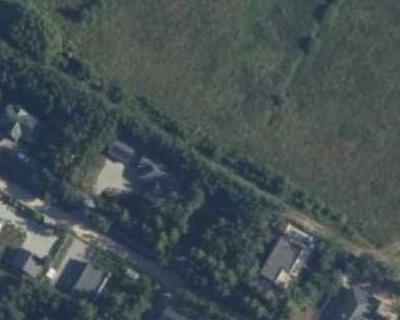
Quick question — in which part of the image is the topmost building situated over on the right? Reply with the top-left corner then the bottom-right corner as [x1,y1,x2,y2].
[261,238,299,282]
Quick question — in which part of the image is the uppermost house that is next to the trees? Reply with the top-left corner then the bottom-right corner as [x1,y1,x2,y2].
[1,103,38,142]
